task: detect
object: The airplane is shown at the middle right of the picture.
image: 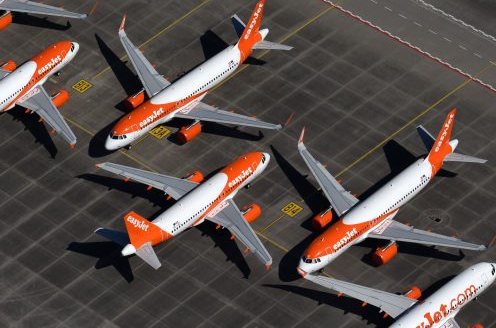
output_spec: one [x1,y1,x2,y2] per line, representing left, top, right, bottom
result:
[298,108,496,273]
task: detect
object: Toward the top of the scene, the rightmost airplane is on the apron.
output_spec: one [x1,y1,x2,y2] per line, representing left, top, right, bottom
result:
[104,0,294,149]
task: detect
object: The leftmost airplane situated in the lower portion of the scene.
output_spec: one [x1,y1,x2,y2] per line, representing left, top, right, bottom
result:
[94,154,273,271]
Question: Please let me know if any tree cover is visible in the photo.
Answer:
No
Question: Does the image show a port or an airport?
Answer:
airport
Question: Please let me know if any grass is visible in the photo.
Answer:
No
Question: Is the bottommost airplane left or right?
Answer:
right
